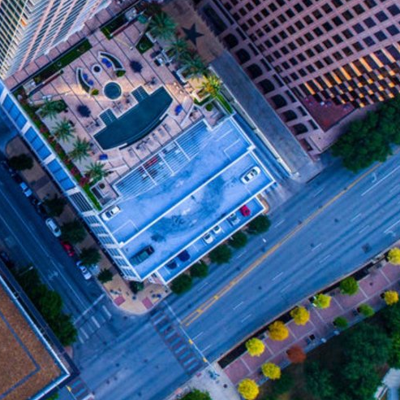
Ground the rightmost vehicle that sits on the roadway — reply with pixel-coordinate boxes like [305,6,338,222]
[75,260,93,280]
